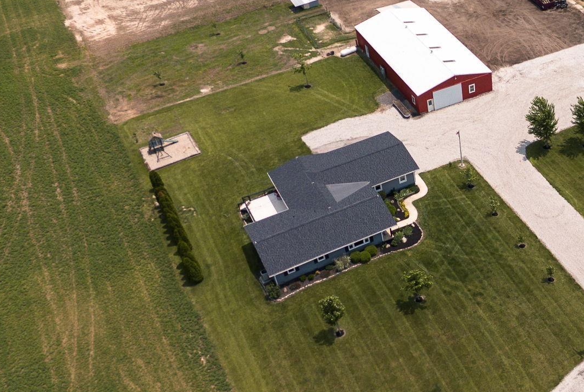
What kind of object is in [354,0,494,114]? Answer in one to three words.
barn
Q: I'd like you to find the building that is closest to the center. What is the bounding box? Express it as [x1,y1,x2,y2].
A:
[243,132,419,285]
